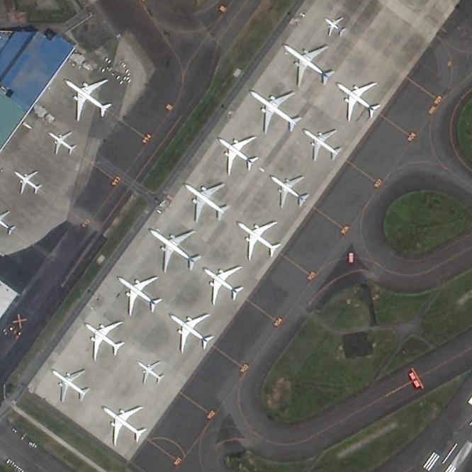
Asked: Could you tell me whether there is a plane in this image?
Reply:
Yes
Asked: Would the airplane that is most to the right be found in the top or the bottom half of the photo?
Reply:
top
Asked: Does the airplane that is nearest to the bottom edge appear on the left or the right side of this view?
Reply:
left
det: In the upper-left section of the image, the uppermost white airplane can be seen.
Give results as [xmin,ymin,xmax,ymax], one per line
[66,80,111,118]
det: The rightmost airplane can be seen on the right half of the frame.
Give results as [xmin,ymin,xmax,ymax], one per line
[336,81,380,120]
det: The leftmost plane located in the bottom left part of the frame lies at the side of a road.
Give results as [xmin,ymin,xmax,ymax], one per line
[51,369,89,400]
